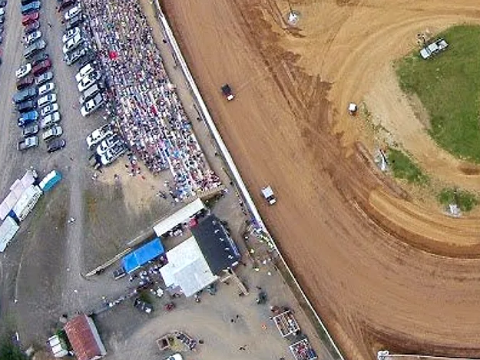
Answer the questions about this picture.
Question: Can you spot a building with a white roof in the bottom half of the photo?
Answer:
Yes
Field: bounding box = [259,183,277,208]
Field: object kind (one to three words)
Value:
car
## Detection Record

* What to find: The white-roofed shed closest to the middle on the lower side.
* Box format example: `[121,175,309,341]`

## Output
[154,199,208,241]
